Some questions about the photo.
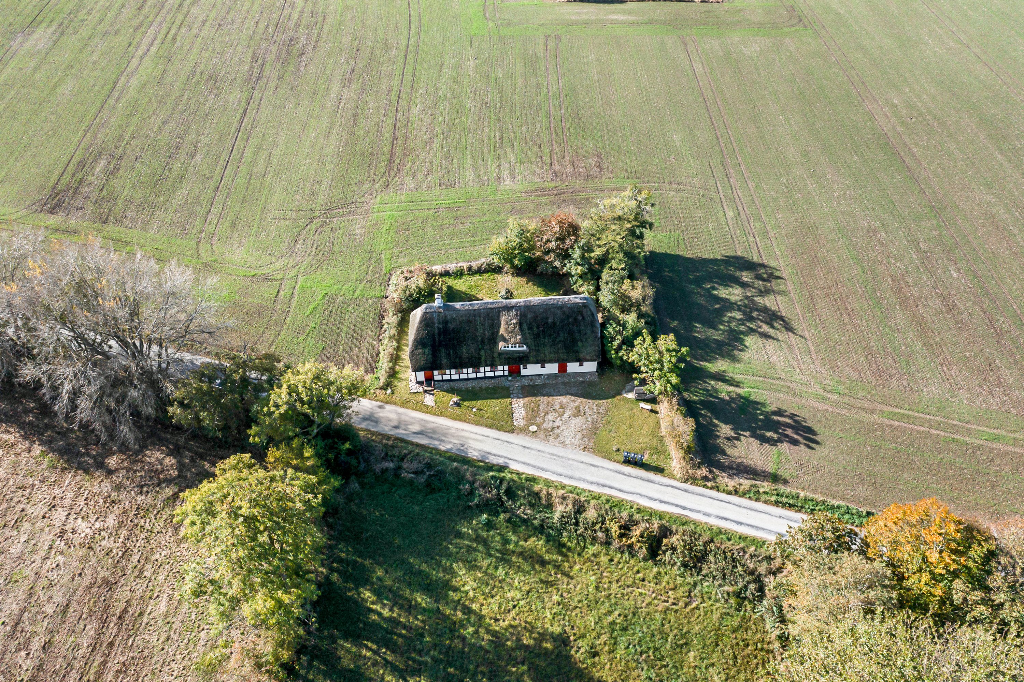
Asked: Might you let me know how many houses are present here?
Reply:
1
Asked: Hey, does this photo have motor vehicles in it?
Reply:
No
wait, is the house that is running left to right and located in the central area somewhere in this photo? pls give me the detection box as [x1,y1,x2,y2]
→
[406,292,603,383]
